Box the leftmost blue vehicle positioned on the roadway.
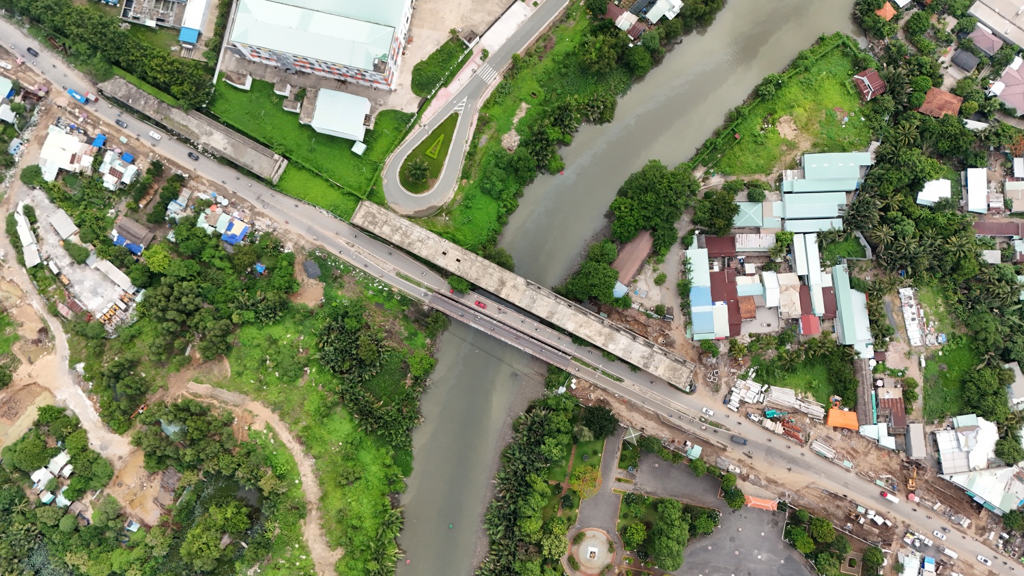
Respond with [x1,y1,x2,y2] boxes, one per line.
[66,87,91,104]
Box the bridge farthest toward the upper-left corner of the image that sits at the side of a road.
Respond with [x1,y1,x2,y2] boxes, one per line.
[97,75,290,185]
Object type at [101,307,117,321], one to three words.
vehicle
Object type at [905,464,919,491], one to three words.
work vehicle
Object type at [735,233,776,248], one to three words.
shed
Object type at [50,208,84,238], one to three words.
house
